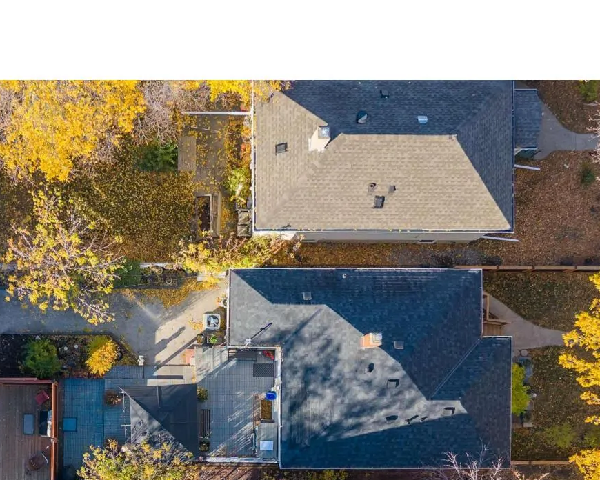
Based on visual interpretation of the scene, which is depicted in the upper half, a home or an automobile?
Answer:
home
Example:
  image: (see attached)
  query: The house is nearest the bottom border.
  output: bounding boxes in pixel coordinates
[227,268,513,472]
